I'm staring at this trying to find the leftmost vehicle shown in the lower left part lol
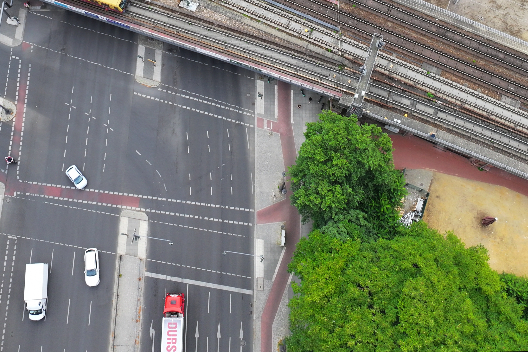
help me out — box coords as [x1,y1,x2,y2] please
[21,261,46,322]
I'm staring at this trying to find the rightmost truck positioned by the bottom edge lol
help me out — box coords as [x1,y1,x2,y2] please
[160,291,185,352]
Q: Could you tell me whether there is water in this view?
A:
No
